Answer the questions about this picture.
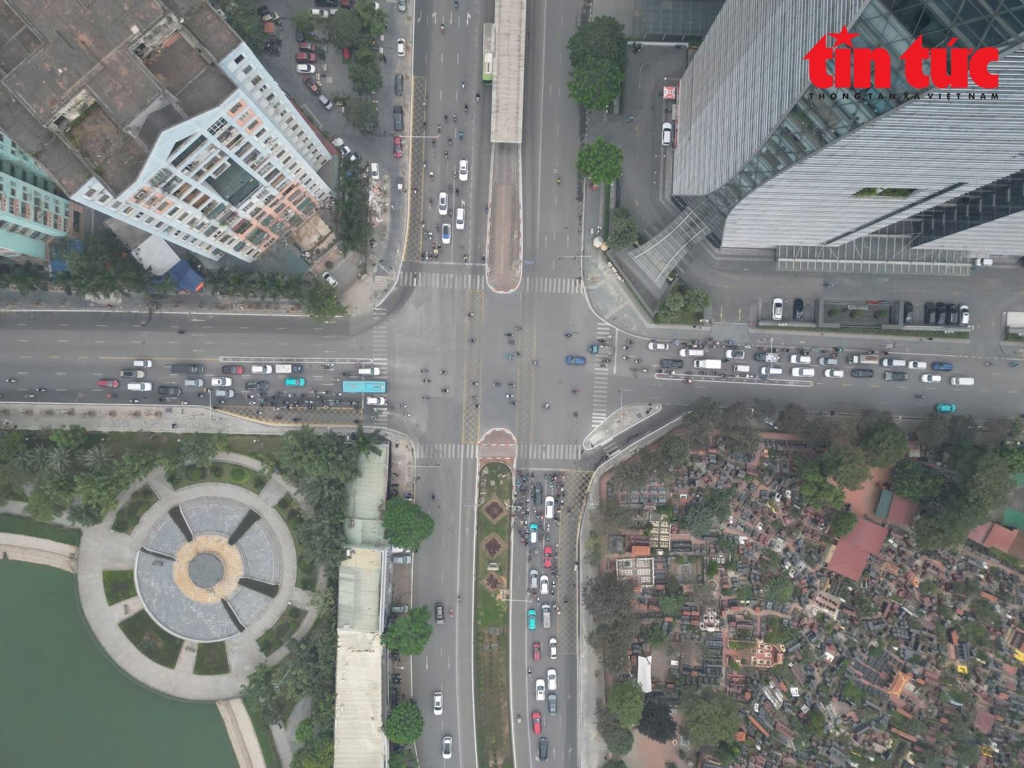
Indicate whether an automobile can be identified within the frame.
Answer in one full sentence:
Yes, this view includes an automobile.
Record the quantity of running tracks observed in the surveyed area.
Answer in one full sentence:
Not a single running track can be seen.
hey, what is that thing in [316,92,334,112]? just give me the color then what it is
gray car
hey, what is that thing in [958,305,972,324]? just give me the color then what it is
white car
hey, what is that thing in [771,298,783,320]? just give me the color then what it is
white vehicle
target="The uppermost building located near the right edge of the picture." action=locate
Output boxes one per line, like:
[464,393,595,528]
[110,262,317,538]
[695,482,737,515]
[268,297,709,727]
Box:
[671,0,1024,249]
